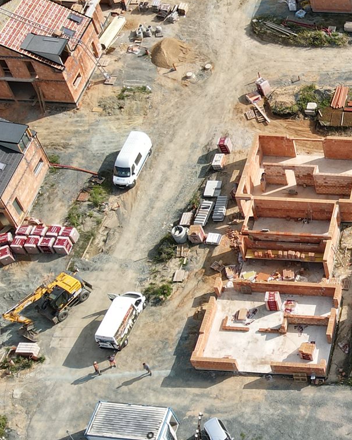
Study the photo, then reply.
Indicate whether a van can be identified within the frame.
Yes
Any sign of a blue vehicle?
No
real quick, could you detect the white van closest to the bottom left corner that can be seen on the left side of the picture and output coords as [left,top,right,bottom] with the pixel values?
[93,292,153,357]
